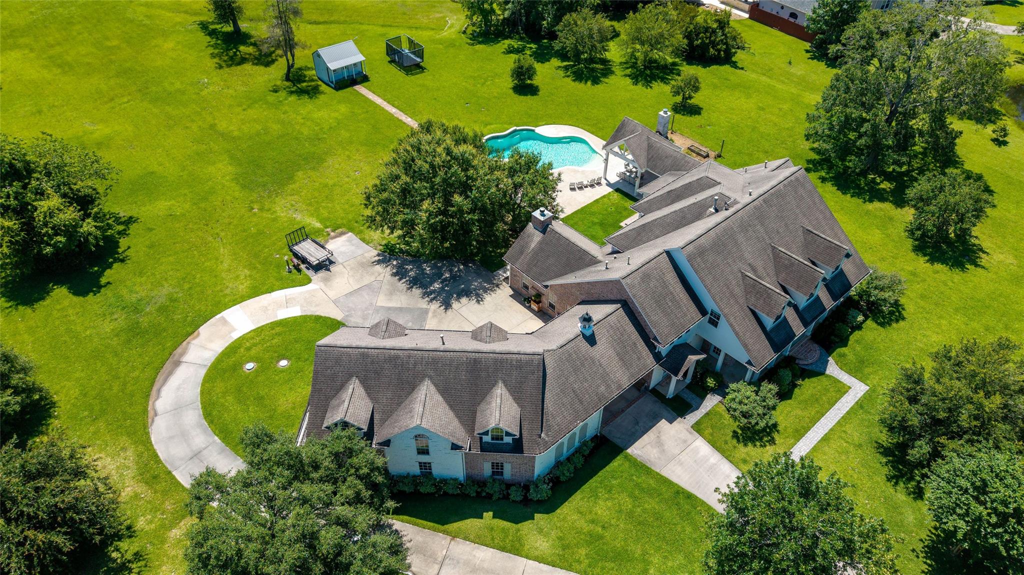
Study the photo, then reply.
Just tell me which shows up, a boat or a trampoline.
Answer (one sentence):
Looking from above, you can make out a trampoline.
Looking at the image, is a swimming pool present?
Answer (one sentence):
Yes, looking at the shot, I can spot a swimming pool.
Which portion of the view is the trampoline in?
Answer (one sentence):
The trampoline is located in the top region of the scene.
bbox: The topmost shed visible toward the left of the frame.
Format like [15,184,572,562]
[311,37,363,88]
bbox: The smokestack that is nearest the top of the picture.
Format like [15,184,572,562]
[656,109,673,137]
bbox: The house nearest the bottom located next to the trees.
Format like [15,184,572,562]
[293,159,872,482]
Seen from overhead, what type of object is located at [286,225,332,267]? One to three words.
trailer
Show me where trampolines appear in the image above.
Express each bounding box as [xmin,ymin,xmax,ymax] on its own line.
[386,34,426,73]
